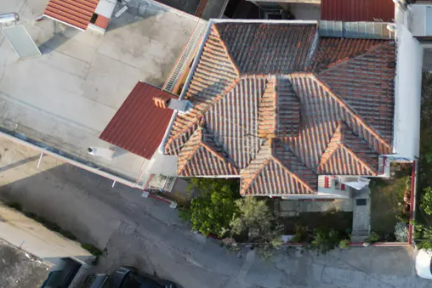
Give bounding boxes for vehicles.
[104,263,181,288]
[413,250,432,281]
